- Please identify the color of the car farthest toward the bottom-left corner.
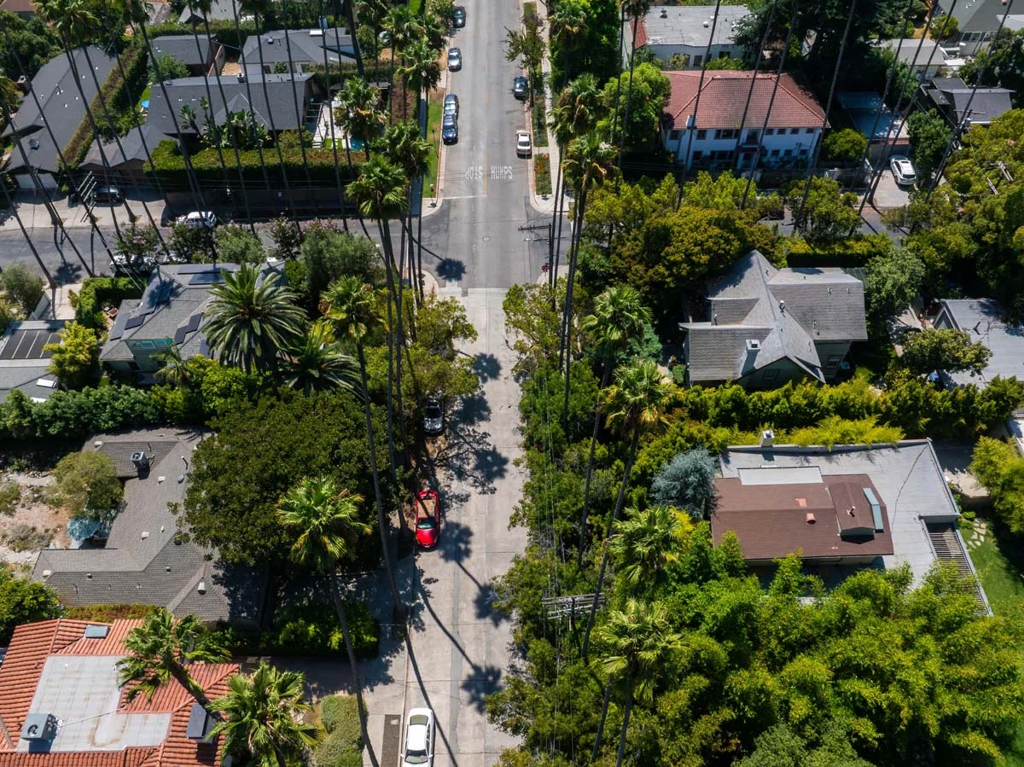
white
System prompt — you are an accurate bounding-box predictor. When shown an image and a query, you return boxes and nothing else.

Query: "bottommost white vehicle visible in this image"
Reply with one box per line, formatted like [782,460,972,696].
[398,705,438,767]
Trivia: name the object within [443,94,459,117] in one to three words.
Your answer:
car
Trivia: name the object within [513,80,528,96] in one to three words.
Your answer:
car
